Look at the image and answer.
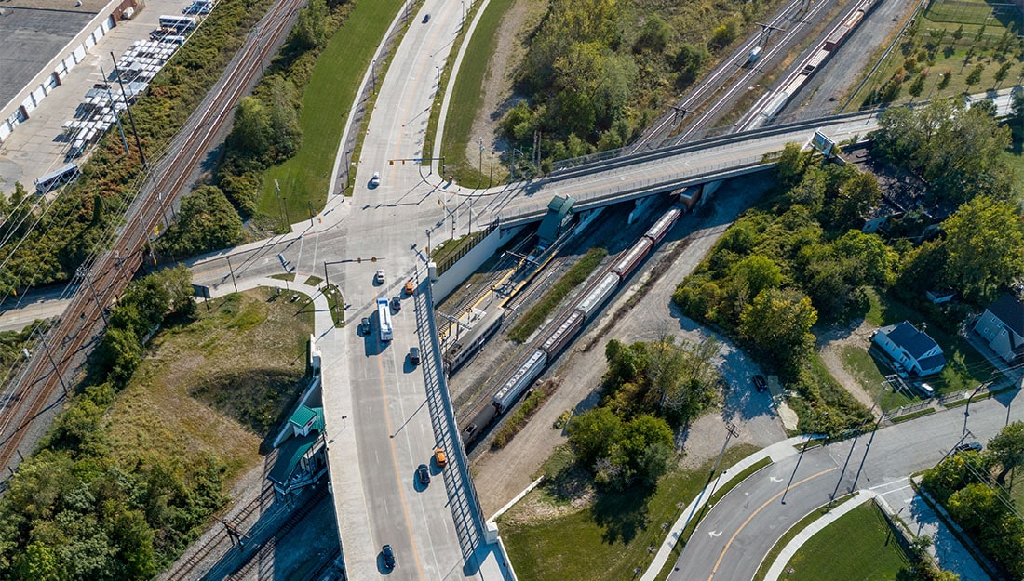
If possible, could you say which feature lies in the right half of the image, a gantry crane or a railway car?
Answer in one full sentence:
The feature located in the right half of the image is a railway car.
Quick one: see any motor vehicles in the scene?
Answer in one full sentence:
Yes, there's a motor vehicle here.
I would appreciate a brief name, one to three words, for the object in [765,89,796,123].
rail car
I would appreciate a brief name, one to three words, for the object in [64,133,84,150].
vehicle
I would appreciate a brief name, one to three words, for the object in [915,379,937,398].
vehicle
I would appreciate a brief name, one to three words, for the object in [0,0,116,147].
building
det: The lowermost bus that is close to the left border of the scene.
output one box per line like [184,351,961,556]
[29,161,80,191]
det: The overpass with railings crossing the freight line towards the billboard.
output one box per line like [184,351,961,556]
[471,109,858,228]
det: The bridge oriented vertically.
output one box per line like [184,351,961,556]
[310,269,510,581]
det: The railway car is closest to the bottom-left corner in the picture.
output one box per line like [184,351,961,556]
[462,407,495,451]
